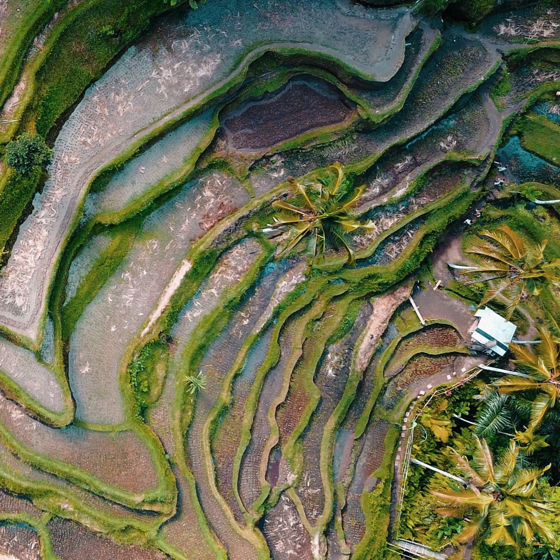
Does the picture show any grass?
Yes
